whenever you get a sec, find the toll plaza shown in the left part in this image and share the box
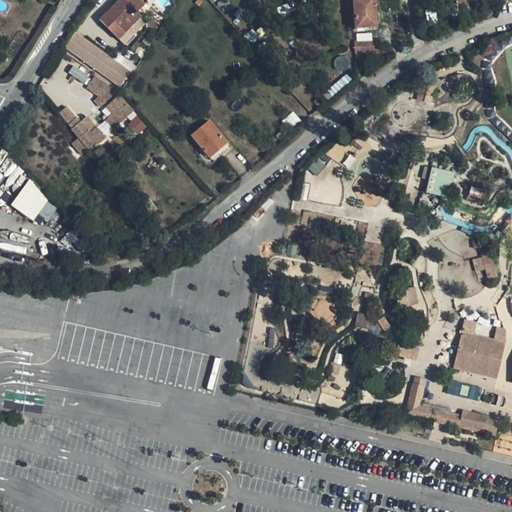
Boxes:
[4,350,44,414]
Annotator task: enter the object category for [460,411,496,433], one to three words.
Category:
building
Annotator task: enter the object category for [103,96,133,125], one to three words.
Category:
house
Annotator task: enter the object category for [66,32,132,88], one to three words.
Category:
barn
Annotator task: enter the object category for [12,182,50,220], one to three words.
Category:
shed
